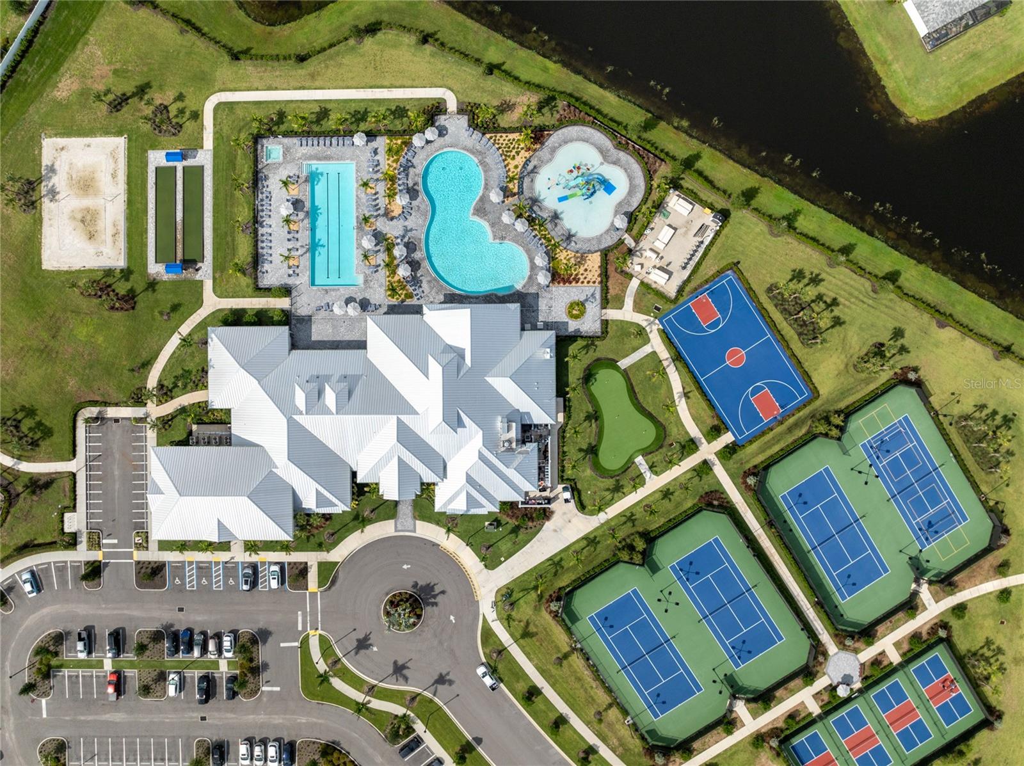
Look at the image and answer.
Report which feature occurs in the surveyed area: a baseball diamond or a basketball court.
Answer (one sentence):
The one in the frame is a basketball court.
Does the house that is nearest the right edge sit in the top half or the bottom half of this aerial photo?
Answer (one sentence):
The top half of the photo is where the house that is nearest the right edge is.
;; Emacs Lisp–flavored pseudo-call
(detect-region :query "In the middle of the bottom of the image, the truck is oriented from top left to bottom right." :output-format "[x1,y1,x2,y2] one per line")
[476,661,499,691]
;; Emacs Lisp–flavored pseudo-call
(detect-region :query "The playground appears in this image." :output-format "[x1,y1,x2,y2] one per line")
[558,172,617,204]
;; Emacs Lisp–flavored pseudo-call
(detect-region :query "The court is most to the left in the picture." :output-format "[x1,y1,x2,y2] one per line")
[42,137,125,269]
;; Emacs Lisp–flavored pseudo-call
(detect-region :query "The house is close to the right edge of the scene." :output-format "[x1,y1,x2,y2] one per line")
[901,0,1014,52]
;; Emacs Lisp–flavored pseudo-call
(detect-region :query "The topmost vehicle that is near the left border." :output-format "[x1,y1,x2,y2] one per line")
[23,568,40,595]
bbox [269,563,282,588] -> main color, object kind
white vehicle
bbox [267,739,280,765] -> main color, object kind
white vehicle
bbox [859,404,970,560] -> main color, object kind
blue tennis court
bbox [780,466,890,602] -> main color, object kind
blue tennis court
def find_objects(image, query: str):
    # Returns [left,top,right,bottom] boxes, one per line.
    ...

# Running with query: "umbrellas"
[535,253,548,266]
[490,189,503,202]
[348,303,361,316]
[396,192,409,205]
[538,272,550,284]
[353,133,367,146]
[425,127,438,141]
[362,235,376,249]
[334,302,347,315]
[613,214,627,228]
[835,683,849,697]
[393,246,407,259]
[501,211,515,224]
[281,203,294,215]
[398,264,411,277]
[413,133,426,147]
[515,218,528,232]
